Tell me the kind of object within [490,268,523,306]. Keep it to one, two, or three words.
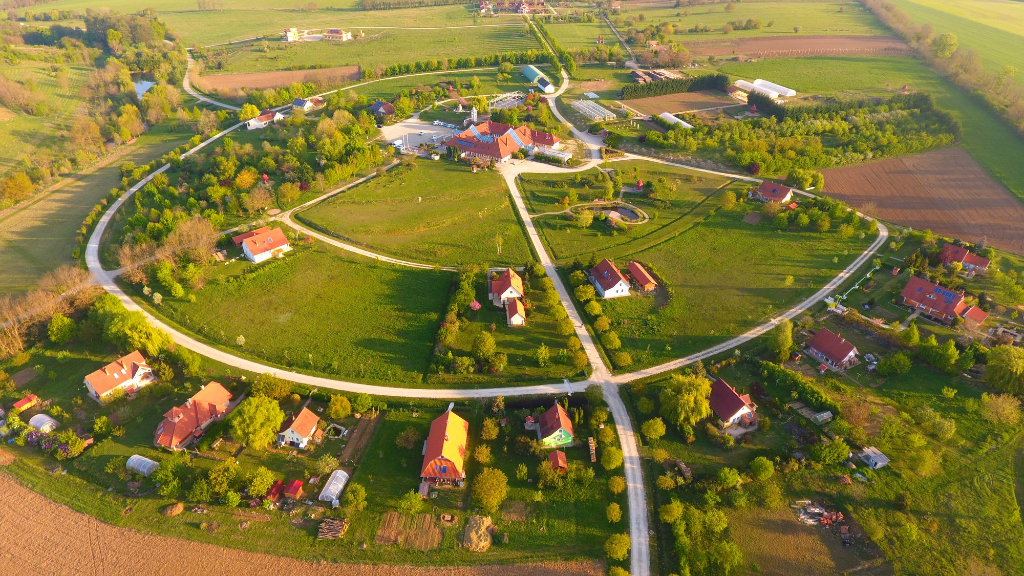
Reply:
house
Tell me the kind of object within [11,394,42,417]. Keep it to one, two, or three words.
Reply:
shed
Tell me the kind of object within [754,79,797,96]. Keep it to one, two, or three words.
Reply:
greenhouse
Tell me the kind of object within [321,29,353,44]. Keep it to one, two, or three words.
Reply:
building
